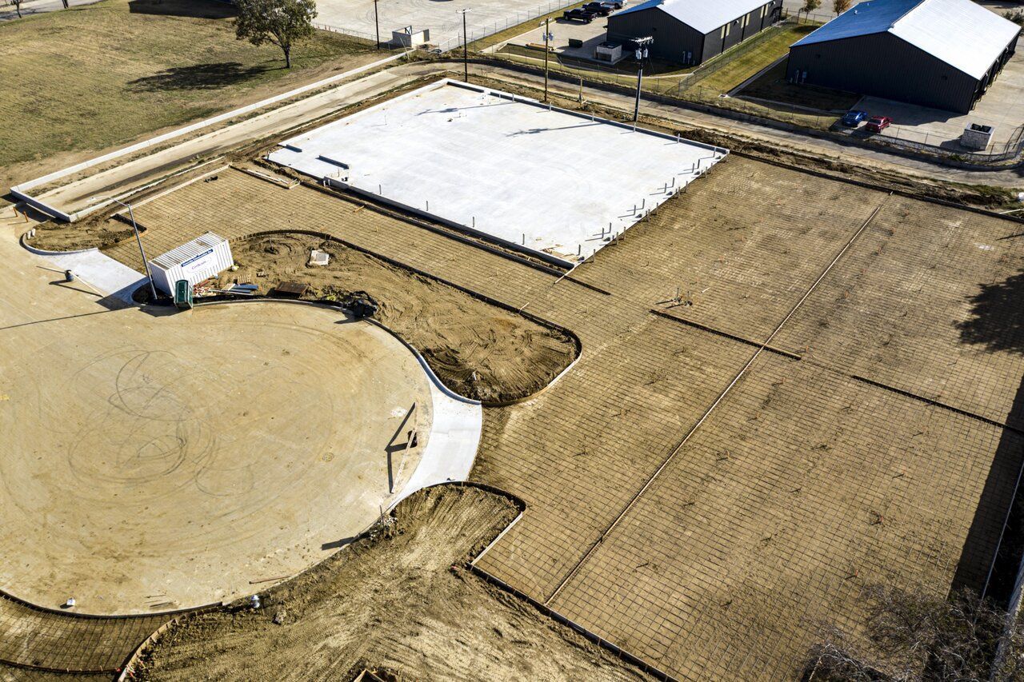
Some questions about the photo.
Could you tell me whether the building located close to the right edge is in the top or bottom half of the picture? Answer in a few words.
top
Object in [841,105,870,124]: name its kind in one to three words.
car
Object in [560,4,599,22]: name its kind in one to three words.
vehicle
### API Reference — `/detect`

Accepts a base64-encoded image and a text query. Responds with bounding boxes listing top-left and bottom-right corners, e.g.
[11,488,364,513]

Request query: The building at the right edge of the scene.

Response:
[784,0,1024,114]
